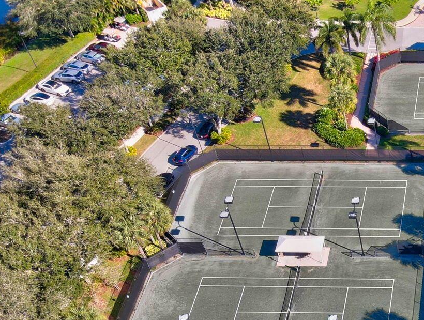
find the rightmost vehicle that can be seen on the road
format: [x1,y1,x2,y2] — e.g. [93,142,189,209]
[191,119,220,142]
